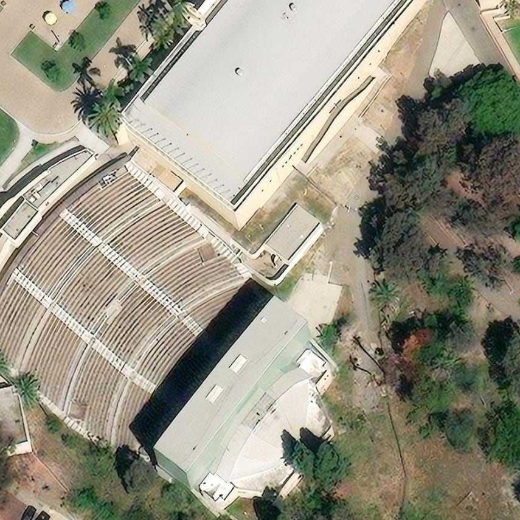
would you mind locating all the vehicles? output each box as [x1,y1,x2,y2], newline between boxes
[22,503,36,520]
[36,507,51,520]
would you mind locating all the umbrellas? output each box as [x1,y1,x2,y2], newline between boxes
[63,0,75,13]
[44,11,58,24]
